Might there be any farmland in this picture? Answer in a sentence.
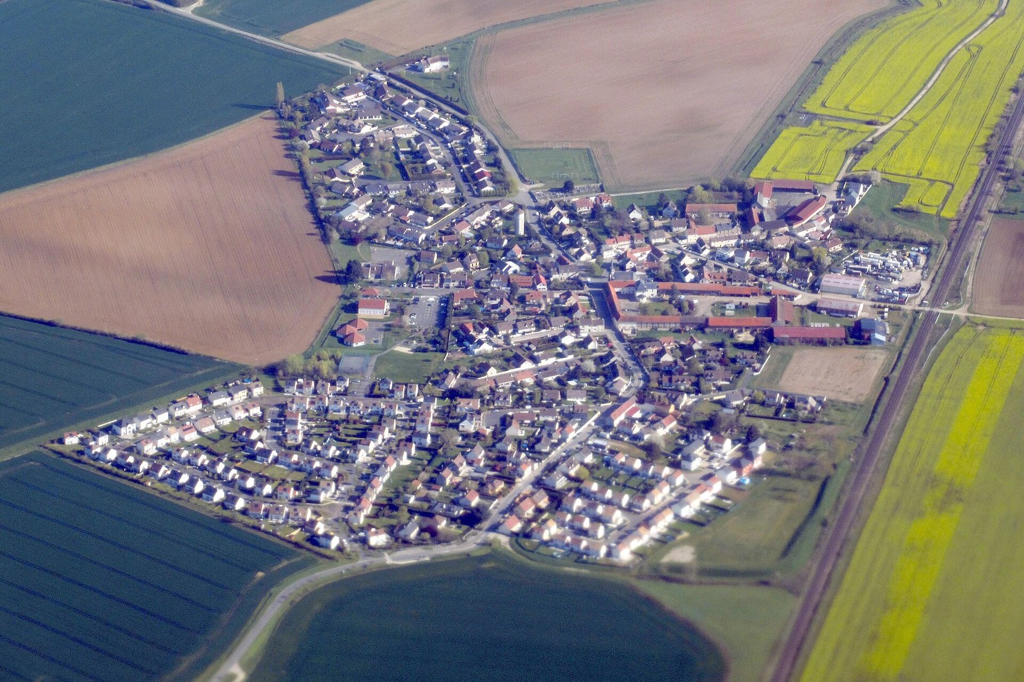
Yes, farmland can be seen from above here.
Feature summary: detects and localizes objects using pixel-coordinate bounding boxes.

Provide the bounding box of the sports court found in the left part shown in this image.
[339,354,369,372]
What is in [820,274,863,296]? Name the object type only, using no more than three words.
hangar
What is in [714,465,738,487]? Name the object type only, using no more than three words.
house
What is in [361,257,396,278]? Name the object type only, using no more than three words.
building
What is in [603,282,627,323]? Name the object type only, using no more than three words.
barn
